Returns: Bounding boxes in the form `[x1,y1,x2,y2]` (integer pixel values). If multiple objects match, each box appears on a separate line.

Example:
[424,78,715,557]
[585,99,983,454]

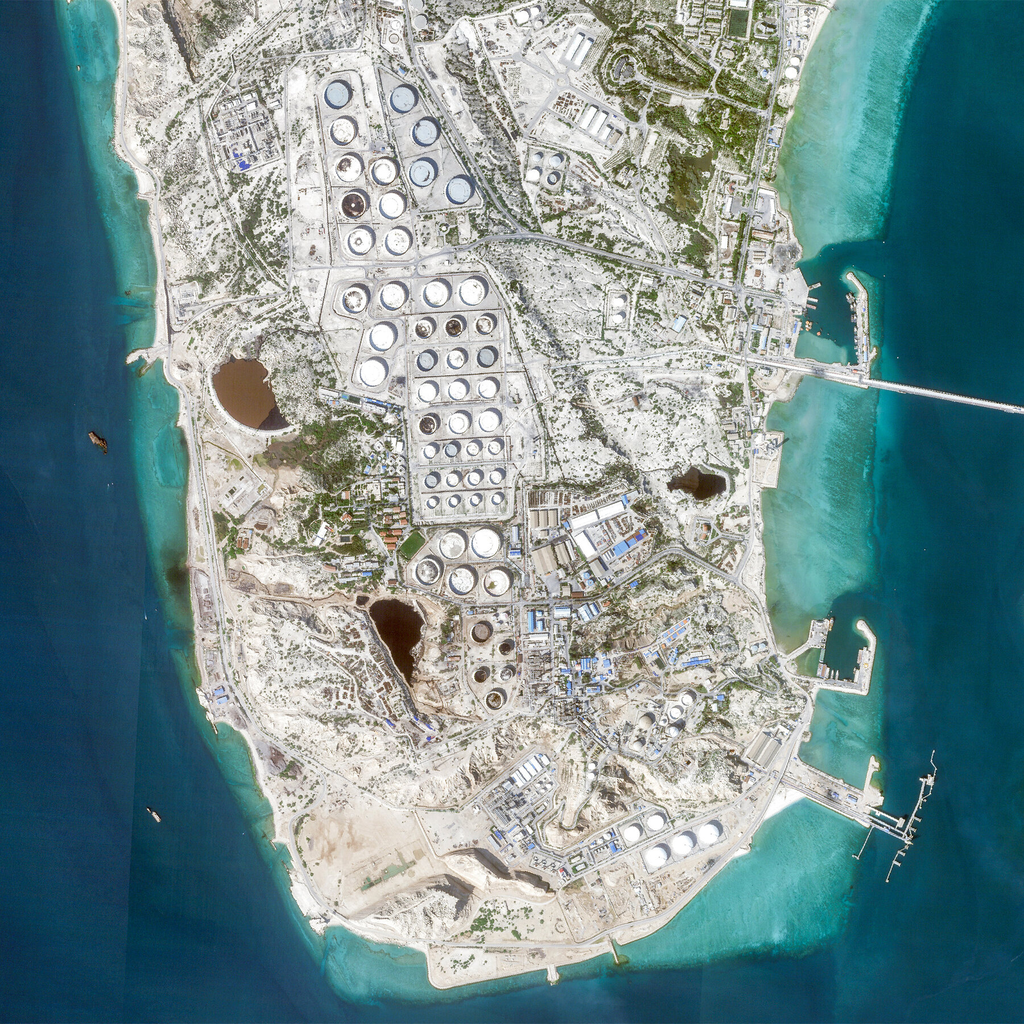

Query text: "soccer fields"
[730,8,750,37]
[397,528,427,561]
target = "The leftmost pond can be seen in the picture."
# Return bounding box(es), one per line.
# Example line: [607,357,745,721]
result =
[212,359,290,431]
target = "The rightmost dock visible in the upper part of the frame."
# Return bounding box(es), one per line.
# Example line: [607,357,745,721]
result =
[862,377,1024,414]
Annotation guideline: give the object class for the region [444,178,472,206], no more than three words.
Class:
storage tank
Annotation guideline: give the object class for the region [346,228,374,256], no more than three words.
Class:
storage tank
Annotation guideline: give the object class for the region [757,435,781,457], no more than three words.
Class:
building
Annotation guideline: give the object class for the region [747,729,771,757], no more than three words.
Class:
building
